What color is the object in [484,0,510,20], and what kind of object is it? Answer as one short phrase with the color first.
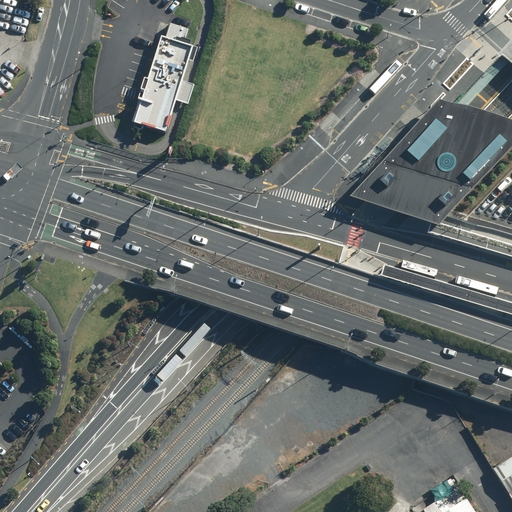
white bus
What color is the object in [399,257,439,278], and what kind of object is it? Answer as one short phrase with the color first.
white bus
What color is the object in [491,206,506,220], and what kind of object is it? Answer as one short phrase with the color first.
white vehicle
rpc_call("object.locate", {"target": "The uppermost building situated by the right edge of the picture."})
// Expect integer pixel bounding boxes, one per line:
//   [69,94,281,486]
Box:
[350,100,512,224]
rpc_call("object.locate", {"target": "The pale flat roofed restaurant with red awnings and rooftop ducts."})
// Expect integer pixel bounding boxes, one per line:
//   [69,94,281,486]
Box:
[133,22,198,131]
